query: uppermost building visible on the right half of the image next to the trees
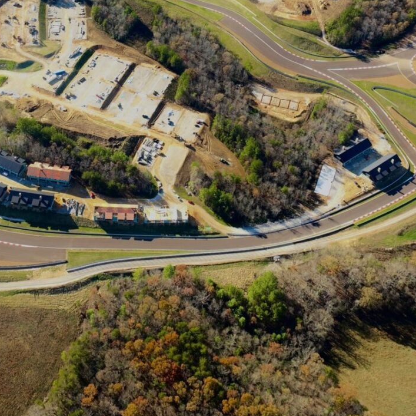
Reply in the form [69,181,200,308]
[329,137,373,170]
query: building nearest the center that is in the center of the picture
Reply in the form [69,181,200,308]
[143,207,188,228]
